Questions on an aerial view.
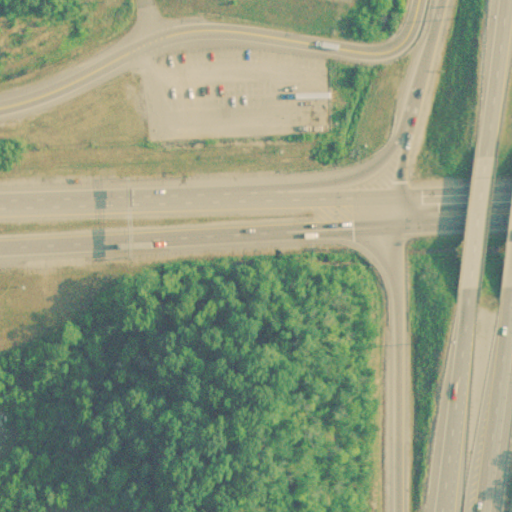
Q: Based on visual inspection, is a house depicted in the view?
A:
No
